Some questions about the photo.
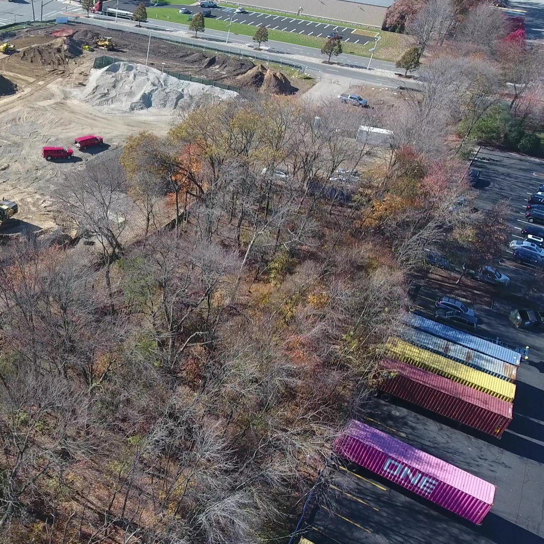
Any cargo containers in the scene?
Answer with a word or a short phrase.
Yes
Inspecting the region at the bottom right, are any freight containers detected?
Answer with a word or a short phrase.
Yes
